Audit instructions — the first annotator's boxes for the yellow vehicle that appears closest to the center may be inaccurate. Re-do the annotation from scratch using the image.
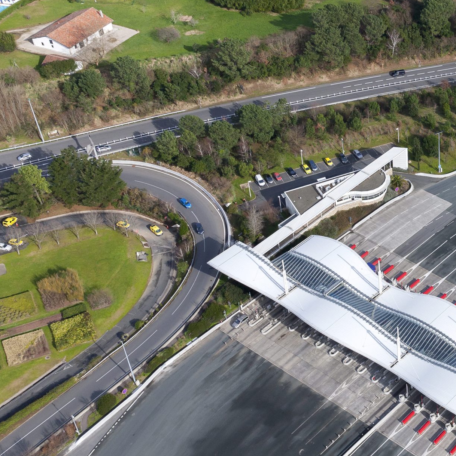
[150,223,163,236]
